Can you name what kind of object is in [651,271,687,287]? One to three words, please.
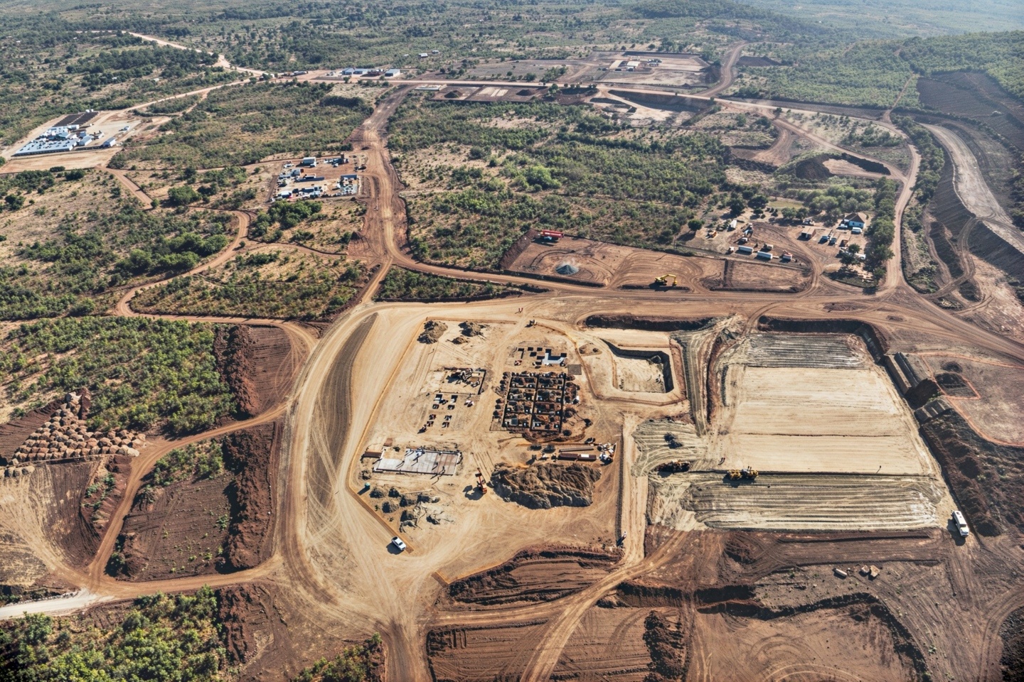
work vehicle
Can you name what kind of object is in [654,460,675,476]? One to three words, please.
vehicle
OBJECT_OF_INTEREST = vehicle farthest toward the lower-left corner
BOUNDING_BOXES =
[389,535,409,553]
